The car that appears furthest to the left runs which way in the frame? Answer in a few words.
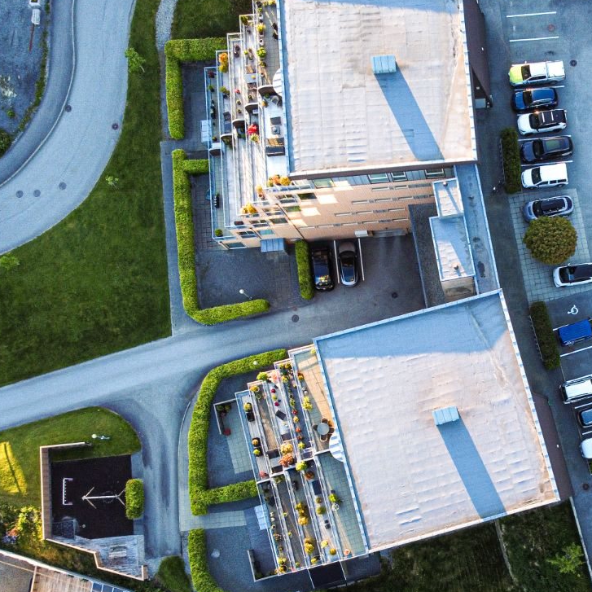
from top to bottom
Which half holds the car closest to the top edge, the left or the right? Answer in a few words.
right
